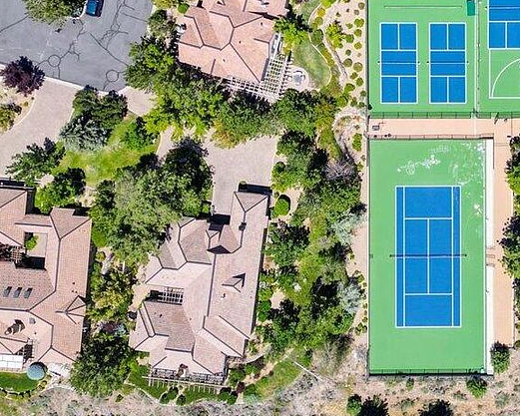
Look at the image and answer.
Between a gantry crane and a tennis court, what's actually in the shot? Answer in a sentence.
The one in the frame is a tennis court.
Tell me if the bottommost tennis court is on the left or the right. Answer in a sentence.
The bottommost tennis court is on the right side of the image.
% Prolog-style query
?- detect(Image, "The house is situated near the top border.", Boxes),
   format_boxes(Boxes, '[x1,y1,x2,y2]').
[178,0,293,82]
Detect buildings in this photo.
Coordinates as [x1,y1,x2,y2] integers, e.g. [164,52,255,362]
[129,190,270,378]
[178,0,293,82]
[0,188,97,364]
